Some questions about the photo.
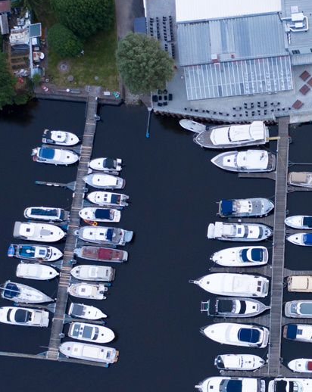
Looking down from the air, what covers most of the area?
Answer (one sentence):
What you mostly see from above here is water.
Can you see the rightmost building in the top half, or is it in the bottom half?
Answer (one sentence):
You can find the rightmost building in the top half.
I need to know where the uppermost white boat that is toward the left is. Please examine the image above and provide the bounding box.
[39,130,83,149]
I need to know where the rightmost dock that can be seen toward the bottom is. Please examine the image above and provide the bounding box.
[209,123,312,381]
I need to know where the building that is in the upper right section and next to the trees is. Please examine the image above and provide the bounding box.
[175,0,312,103]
